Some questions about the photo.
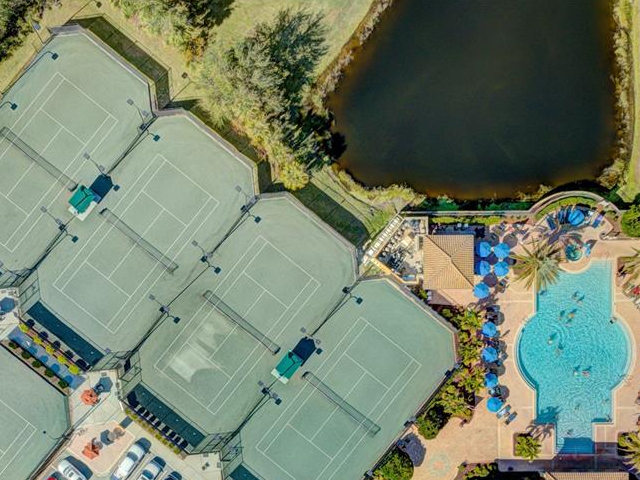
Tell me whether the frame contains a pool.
Yes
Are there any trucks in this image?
No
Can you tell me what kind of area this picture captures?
sports ground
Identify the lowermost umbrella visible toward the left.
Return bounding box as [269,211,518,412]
[83,442,101,459]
